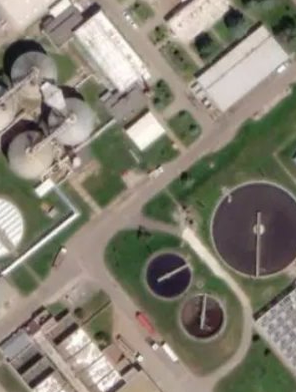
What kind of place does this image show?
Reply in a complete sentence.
What you see here is an industrial area.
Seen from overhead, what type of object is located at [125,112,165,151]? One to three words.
building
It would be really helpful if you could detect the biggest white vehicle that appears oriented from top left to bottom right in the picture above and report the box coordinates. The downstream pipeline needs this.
[162,342,179,362]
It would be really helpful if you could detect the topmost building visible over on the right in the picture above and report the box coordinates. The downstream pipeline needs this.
[168,0,237,41]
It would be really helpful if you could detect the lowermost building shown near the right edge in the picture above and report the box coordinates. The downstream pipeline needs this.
[198,26,288,113]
